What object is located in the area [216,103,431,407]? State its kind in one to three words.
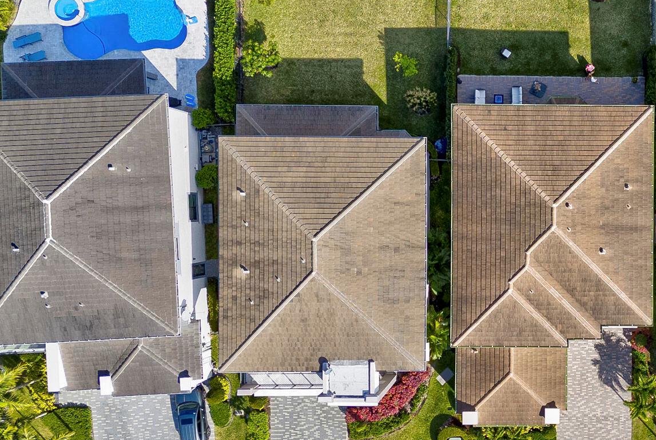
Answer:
house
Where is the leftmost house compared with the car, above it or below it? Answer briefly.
above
